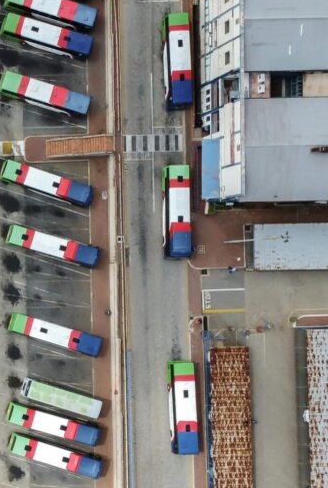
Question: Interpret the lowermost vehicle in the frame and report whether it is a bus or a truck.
bus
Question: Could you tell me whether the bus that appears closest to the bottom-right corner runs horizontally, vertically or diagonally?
vertically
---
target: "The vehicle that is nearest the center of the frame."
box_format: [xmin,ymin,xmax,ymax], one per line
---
[158,165,191,261]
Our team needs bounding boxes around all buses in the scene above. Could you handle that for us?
[2,401,102,448]
[0,73,93,119]
[4,312,103,359]
[4,431,104,481]
[15,373,101,419]
[158,13,191,112]
[158,165,191,261]
[0,0,97,35]
[0,13,95,62]
[0,160,96,209]
[163,360,197,458]
[1,225,102,272]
